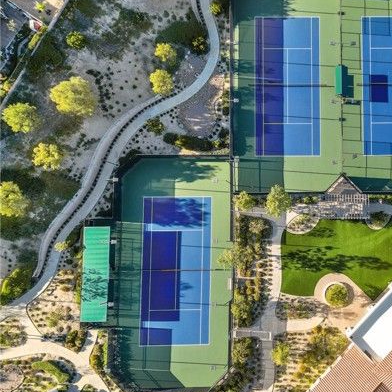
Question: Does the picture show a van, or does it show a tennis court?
tennis court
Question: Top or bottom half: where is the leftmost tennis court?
bottom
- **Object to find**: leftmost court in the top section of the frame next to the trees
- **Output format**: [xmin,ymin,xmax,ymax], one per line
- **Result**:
[234,0,343,191]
